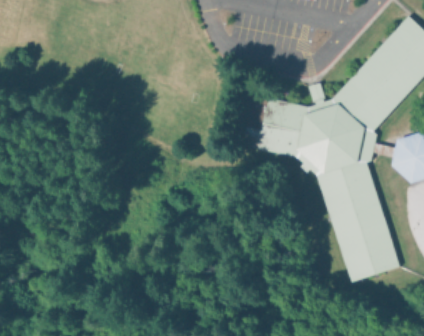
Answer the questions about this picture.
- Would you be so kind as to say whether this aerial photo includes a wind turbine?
No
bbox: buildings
[392,134,424,184]
[259,18,424,282]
